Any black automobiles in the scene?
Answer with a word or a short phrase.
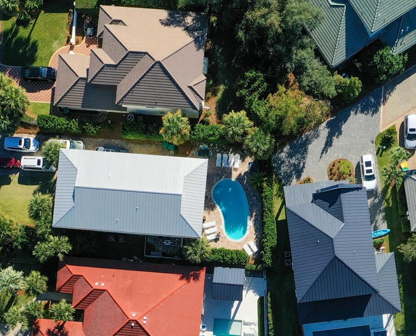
Yes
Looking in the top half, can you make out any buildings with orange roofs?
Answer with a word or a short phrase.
No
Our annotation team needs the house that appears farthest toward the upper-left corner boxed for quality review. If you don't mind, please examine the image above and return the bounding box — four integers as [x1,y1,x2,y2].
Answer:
[53,4,210,118]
